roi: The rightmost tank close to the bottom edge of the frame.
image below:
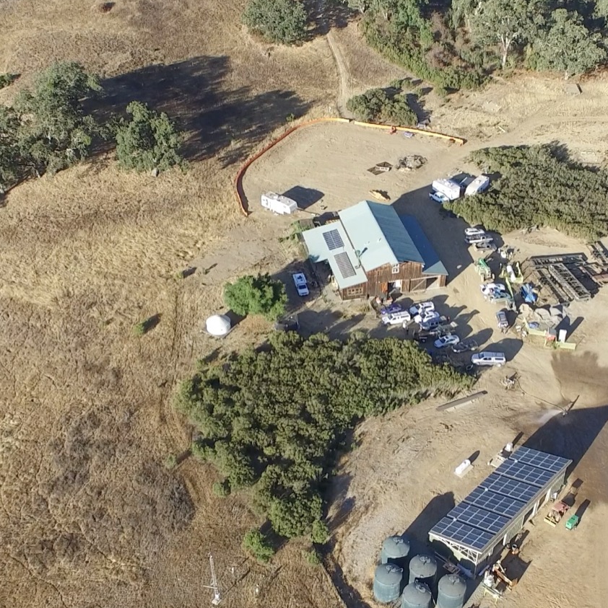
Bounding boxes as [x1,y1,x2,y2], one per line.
[438,571,468,608]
